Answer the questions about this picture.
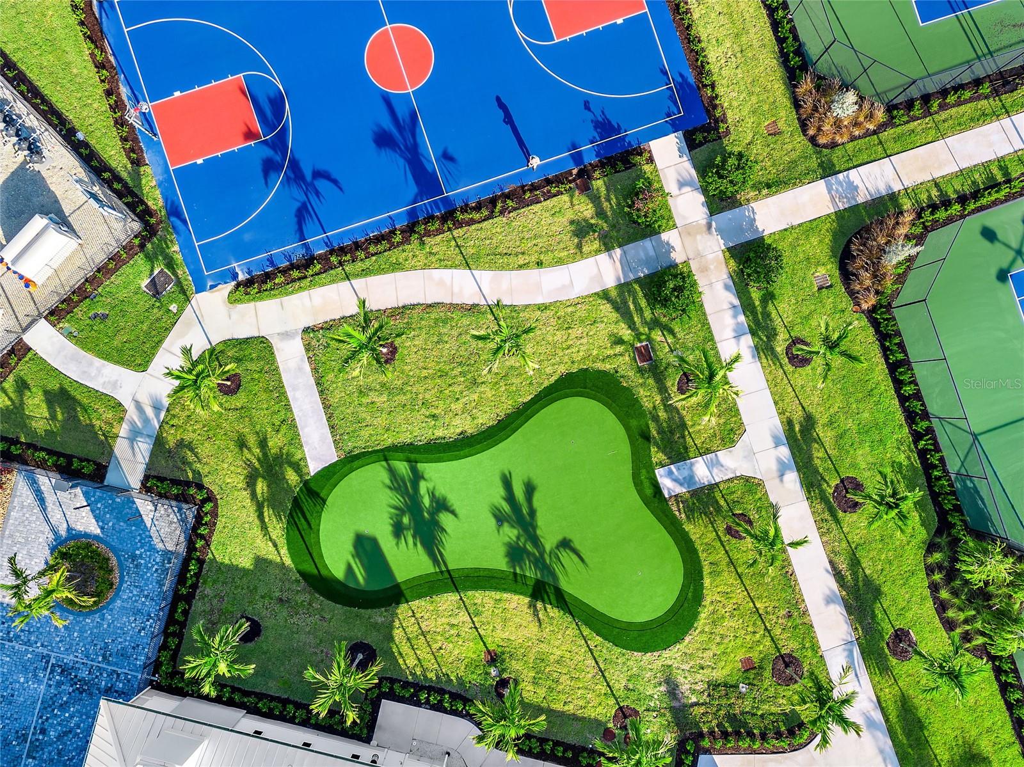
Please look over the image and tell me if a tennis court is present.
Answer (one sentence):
Yes, the picture does show a tennis court.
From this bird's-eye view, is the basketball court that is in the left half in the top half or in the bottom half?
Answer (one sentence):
You can find the basketball court that is in the left half in the top half.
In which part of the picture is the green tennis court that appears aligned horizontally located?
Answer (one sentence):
You can find the green tennis court that appears aligned horizontally in the top right area of the picture.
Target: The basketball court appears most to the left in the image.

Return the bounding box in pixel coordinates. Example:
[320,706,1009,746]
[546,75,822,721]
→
[93,0,709,294]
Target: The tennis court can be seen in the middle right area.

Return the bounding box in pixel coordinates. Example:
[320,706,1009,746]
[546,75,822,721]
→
[894,199,1024,549]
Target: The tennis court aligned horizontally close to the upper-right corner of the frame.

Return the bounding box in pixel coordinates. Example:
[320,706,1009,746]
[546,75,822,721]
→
[788,0,1024,103]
